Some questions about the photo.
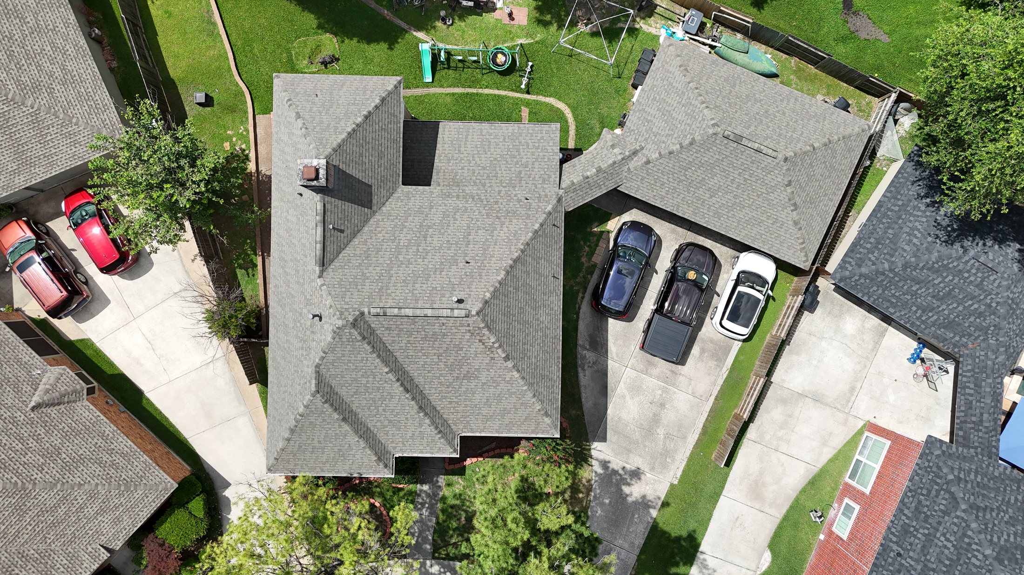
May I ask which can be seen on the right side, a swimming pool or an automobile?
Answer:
automobile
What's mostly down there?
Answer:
buildings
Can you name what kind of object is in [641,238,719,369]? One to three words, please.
truck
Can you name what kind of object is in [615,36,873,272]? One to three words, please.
building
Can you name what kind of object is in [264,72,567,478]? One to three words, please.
house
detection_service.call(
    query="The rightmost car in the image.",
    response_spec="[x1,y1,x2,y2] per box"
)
[713,248,780,347]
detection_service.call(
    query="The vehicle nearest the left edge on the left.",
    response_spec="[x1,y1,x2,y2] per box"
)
[0,213,87,319]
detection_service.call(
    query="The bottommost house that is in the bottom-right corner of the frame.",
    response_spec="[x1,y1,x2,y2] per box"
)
[810,426,1024,575]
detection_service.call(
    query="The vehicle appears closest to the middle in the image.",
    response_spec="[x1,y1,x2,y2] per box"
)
[591,216,658,324]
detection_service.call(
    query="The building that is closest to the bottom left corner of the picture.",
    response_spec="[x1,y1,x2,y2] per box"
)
[0,310,188,575]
